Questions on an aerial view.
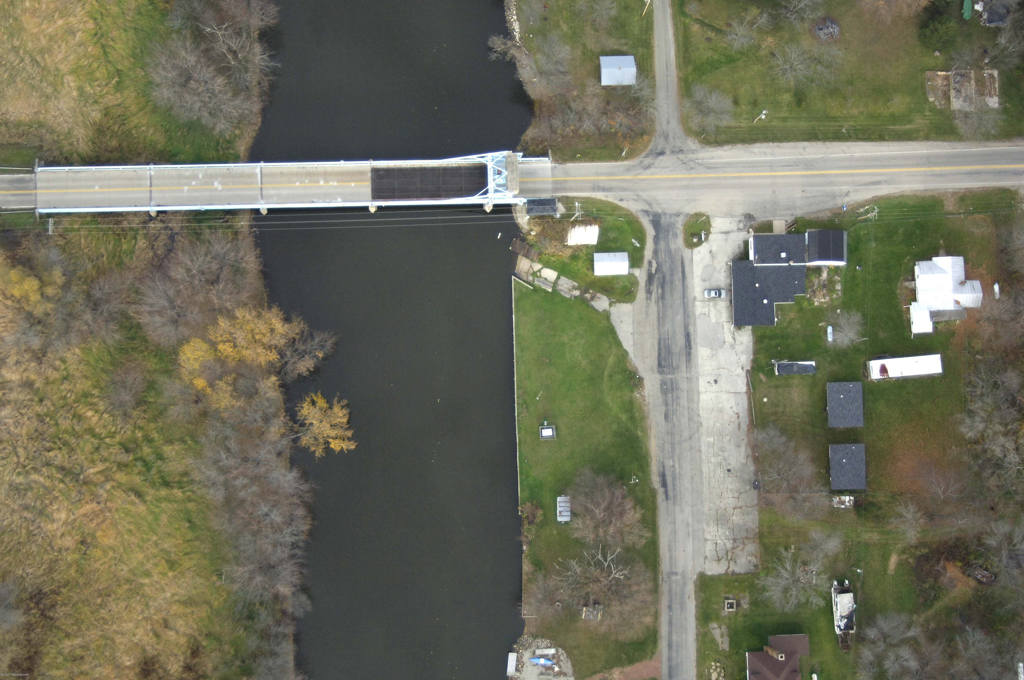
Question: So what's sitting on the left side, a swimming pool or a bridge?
bridge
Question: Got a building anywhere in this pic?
Yes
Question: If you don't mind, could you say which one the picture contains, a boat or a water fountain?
boat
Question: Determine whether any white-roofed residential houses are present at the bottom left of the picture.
No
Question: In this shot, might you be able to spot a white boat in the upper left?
No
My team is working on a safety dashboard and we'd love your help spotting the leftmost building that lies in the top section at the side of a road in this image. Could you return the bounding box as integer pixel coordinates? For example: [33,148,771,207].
[526,199,556,217]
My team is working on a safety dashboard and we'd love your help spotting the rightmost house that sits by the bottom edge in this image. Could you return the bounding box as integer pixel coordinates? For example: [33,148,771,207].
[744,632,809,680]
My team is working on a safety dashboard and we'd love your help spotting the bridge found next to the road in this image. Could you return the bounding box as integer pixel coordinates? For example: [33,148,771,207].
[32,143,553,234]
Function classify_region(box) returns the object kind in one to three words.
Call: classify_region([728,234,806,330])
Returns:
building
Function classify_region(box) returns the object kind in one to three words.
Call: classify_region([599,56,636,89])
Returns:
shed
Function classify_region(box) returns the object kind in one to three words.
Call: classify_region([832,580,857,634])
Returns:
boat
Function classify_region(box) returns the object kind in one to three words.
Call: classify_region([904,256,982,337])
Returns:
house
